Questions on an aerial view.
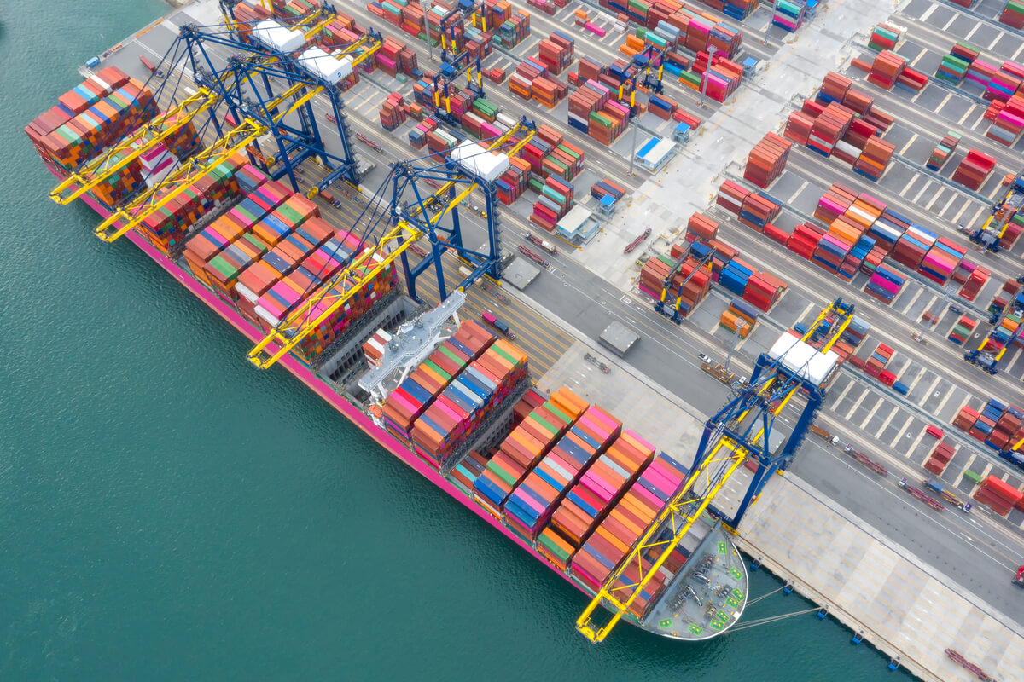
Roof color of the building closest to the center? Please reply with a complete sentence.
The roof of the building closest to the center is white.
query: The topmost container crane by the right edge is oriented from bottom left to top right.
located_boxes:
[972,169,1024,252]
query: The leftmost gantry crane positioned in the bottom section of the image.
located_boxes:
[571,290,857,649]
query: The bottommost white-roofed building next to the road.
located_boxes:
[556,205,595,245]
